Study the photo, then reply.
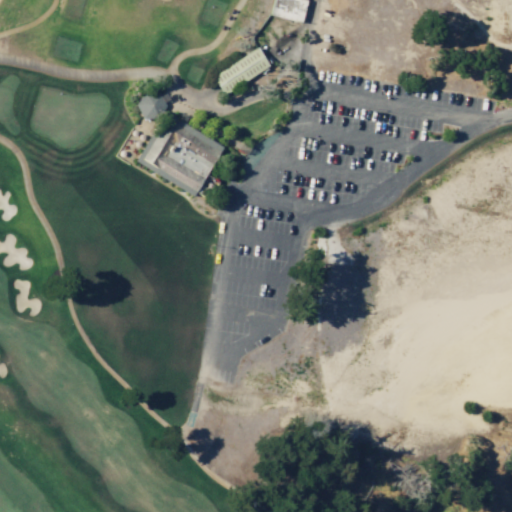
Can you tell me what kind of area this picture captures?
golf course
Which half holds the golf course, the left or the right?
left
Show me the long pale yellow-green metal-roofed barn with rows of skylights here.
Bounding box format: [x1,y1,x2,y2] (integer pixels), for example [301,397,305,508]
[220,48,270,93]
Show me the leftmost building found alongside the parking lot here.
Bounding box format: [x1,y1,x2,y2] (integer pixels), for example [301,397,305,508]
[138,122,224,195]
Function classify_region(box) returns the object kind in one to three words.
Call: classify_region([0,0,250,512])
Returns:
golf course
